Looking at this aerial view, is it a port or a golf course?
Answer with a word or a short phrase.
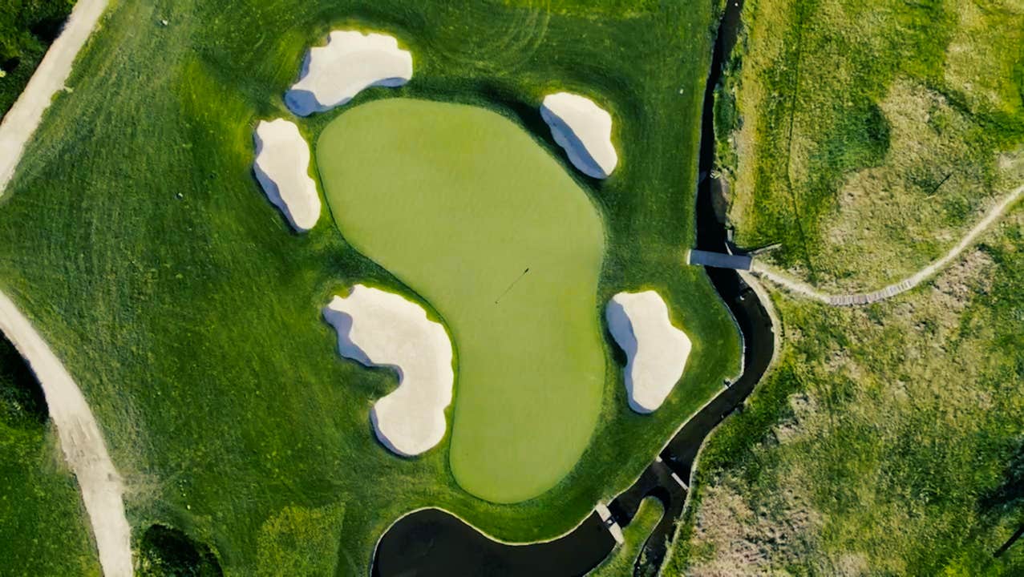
golf course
